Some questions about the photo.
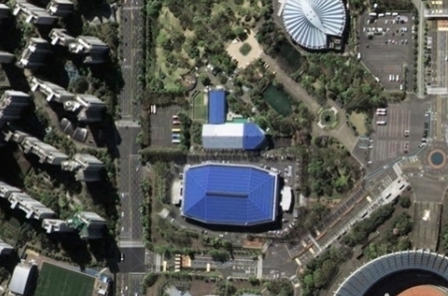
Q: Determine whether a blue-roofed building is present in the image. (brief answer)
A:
Yes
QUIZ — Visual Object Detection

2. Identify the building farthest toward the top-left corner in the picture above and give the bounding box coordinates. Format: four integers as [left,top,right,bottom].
[0,4,20,32]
